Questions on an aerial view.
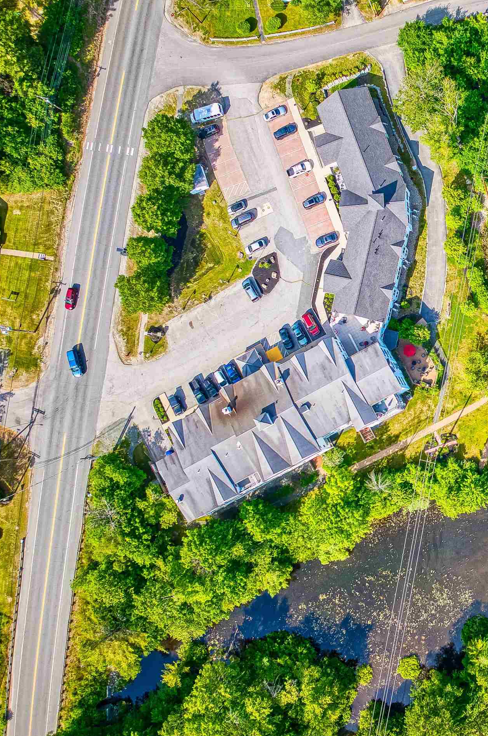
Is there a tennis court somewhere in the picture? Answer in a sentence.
No, I can see no tennis court in this picture.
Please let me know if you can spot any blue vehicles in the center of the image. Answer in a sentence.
Yes, in the center of the image there is a blue vehicle.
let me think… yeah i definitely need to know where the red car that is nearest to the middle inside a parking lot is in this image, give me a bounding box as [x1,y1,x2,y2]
[301,312,320,336]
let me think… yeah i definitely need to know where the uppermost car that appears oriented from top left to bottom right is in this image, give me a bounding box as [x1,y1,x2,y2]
[239,278,263,300]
